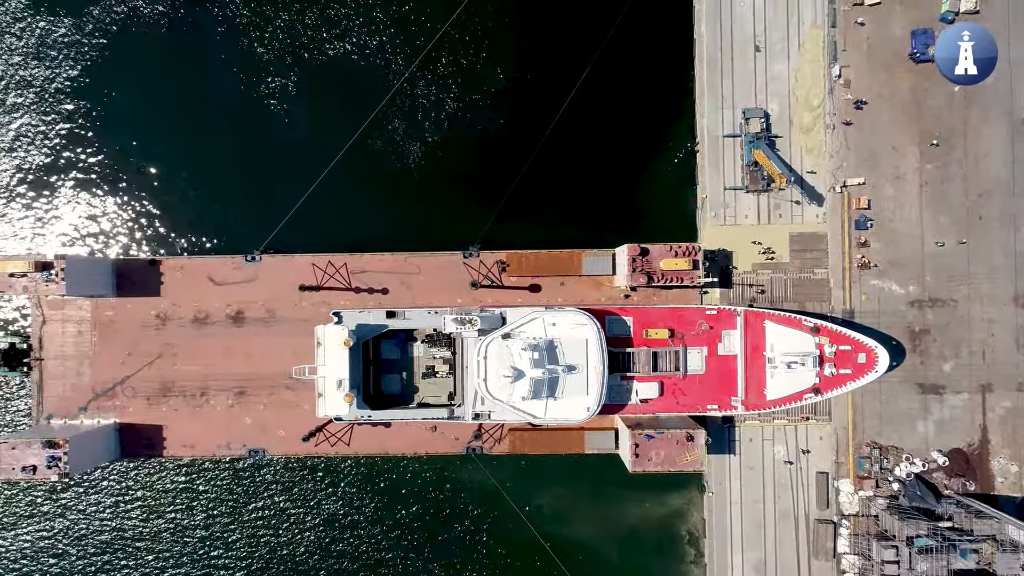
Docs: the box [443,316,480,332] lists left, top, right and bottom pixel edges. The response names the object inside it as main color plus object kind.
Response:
white boat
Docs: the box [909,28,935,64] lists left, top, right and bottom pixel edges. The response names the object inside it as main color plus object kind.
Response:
blue trailer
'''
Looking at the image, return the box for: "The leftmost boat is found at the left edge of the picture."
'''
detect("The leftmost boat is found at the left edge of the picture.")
[0,336,32,375]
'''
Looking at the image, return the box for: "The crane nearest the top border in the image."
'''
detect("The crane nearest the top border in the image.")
[722,107,822,204]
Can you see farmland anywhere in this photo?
No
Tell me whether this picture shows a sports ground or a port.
port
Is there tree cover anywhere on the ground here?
No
